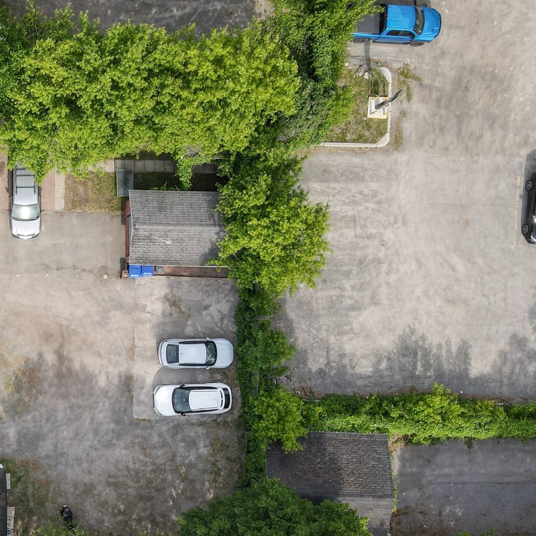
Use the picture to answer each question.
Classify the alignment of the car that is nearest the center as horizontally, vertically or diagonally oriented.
horizontally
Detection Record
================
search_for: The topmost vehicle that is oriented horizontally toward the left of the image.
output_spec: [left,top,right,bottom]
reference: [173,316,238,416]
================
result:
[156,336,232,371]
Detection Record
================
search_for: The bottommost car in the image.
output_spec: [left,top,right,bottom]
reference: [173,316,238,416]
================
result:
[152,381,231,418]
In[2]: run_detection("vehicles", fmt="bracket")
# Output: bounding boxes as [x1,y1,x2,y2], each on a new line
[7,159,43,238]
[156,336,232,371]
[344,3,443,47]
[520,173,536,245]
[152,381,231,418]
